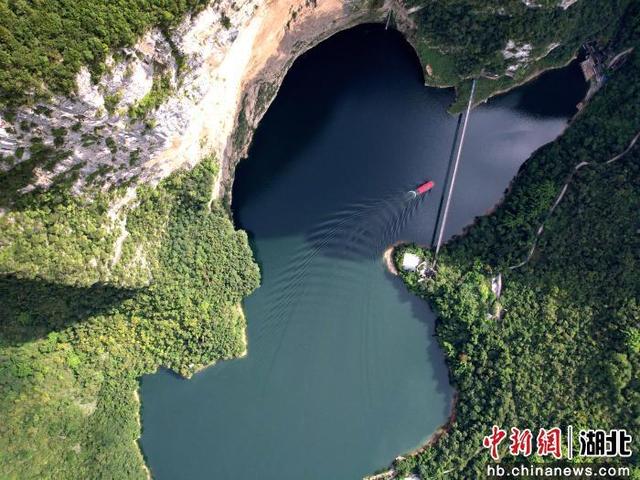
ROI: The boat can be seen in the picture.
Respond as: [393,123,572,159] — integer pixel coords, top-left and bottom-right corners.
[415,181,436,194]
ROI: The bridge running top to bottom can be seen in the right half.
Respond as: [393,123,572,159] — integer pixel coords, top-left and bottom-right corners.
[433,77,478,265]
